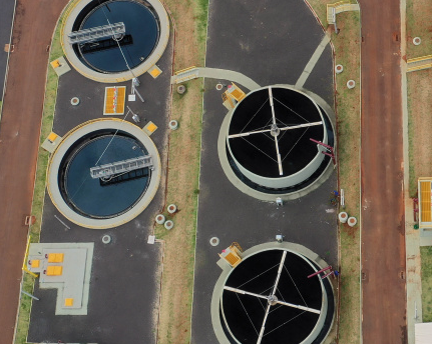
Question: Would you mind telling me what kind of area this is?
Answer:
industrial area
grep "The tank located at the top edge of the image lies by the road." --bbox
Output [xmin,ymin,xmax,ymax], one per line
[61,0,171,84]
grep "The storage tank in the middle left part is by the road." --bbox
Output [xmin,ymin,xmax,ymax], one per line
[47,117,161,229]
